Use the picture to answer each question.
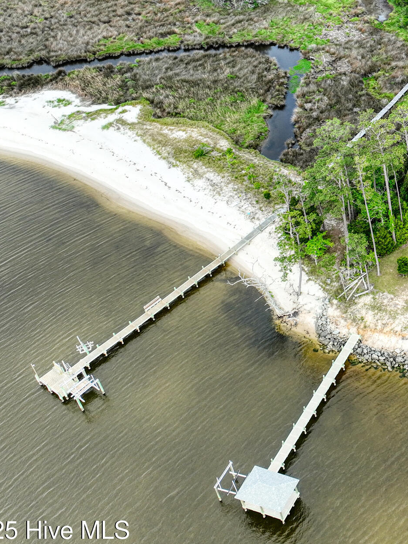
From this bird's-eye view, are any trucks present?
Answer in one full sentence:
No, the picture doesn't show any truck.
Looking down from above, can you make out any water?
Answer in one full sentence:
Yes, water can be seen from above here.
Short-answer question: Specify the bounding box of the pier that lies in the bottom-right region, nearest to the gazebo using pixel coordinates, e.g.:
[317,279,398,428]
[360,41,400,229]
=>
[276,333,357,466]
